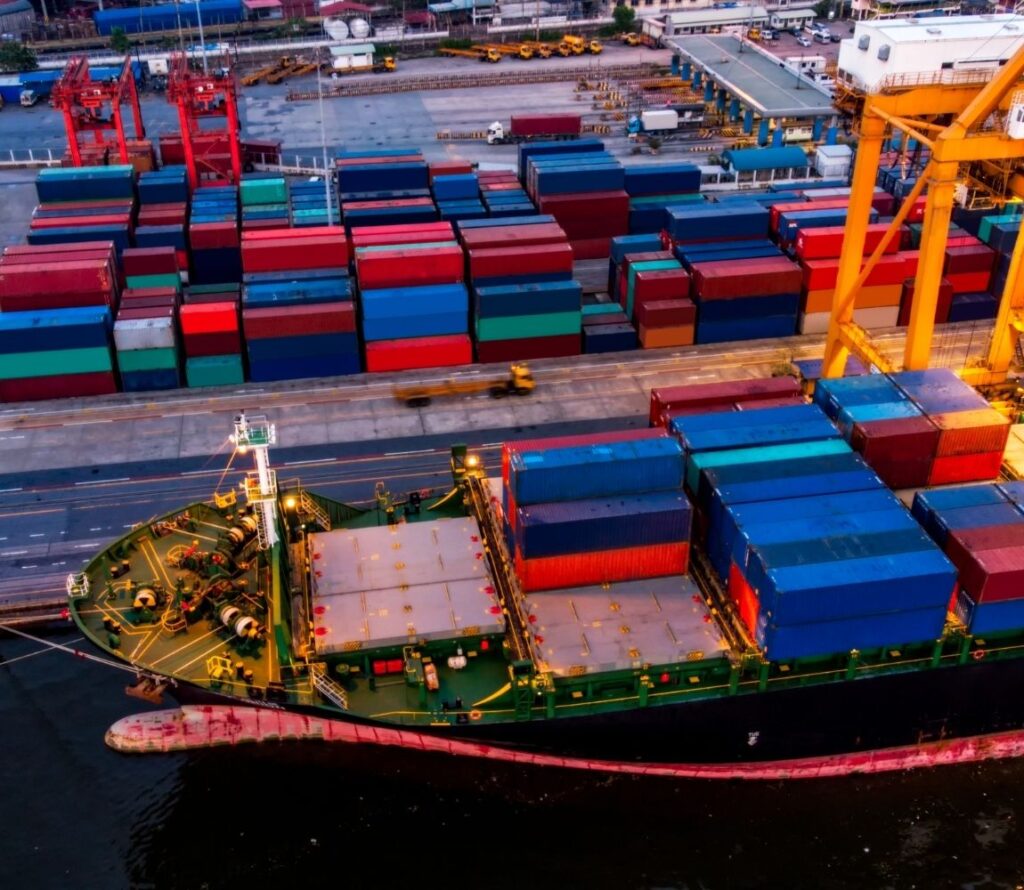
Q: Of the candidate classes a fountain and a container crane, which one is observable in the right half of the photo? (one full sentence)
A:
Visible in the right half of the photo is a container crane.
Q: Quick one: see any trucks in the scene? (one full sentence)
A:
Yes, looking at the shot, I can spot a truck.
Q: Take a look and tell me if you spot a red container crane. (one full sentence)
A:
Yes, I can see a red container crane in this picture.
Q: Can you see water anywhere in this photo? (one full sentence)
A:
Yes, water shows up in the scene.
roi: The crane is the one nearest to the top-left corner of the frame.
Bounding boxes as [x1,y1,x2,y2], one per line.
[49,50,143,169]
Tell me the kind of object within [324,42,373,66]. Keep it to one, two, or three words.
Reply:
shed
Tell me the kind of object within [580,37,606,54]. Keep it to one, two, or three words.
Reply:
vehicle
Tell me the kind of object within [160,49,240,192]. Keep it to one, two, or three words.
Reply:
container crane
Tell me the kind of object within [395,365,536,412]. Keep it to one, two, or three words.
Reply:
truck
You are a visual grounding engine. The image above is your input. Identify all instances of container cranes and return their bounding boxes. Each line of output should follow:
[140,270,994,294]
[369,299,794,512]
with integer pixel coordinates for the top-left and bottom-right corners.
[160,49,240,192]
[804,0,1024,409]
[49,50,143,169]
